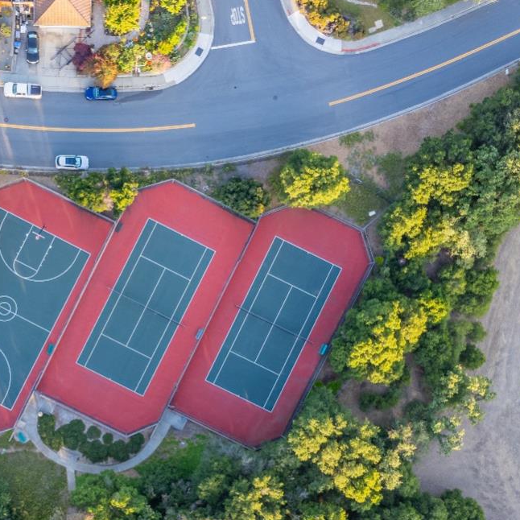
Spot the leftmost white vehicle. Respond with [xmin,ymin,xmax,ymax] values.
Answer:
[3,82,42,99]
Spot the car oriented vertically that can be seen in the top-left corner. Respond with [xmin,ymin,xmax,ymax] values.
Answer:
[25,31,40,65]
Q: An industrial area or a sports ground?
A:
sports ground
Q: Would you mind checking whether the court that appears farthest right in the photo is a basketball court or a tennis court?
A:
tennis court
